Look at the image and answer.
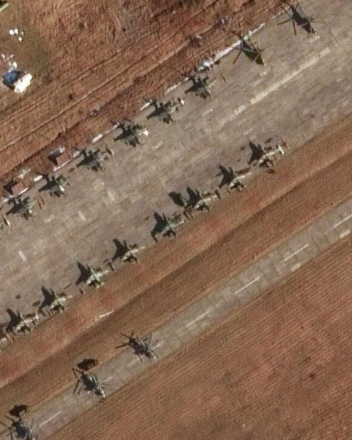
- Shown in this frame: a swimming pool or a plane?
plane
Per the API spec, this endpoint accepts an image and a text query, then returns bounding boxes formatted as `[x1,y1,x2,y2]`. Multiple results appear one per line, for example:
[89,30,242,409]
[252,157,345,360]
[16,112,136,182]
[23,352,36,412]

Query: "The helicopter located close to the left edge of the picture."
[9,417,44,440]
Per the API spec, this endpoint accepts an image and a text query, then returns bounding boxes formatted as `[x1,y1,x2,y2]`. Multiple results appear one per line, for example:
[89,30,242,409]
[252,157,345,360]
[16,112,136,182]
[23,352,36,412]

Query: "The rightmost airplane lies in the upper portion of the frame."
[253,144,280,167]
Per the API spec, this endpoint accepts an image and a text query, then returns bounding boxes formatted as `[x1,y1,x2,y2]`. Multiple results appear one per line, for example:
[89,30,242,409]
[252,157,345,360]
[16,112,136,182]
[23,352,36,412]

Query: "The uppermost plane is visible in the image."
[192,78,218,102]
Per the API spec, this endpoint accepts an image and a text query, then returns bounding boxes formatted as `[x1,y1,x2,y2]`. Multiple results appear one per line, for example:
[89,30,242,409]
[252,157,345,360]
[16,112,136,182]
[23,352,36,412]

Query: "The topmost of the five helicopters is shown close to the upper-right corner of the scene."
[285,3,326,39]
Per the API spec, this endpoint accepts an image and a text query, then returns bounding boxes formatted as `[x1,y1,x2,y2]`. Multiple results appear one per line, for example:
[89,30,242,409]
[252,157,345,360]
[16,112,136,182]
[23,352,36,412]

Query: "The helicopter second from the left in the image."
[79,366,114,399]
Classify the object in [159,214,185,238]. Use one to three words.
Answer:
airplane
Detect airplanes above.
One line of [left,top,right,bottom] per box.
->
[159,214,185,238]
[83,147,110,173]
[11,310,38,333]
[119,241,145,264]
[226,167,251,190]
[83,263,110,287]
[46,290,72,313]
[12,196,38,222]
[253,144,280,167]
[44,173,70,197]
[121,121,148,146]
[190,190,217,213]
[156,101,181,125]
[192,78,218,102]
